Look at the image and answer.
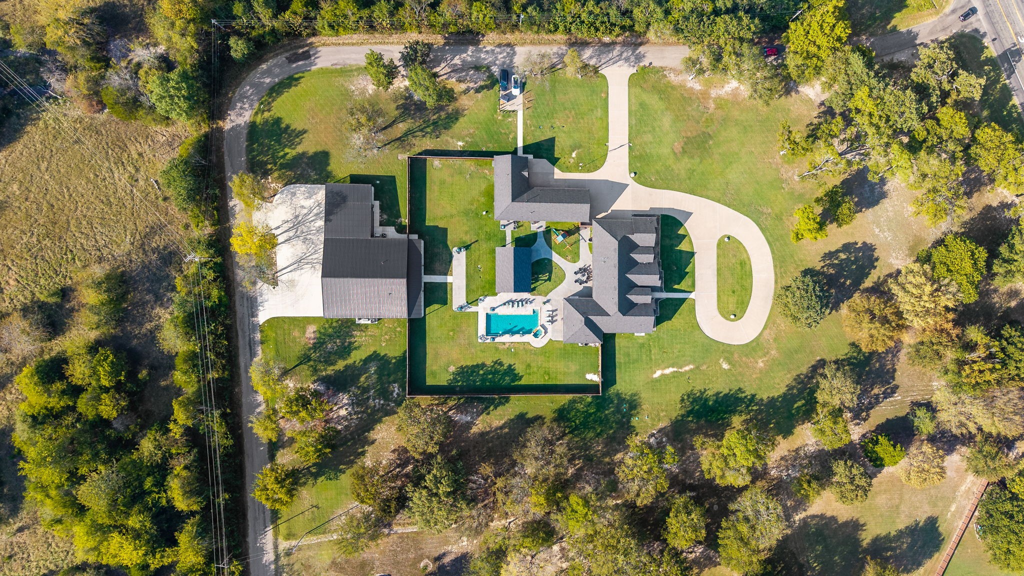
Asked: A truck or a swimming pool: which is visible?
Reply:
swimming pool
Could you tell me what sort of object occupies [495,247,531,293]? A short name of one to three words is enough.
building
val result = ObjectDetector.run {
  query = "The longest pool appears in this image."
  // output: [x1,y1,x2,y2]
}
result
[484,307,540,338]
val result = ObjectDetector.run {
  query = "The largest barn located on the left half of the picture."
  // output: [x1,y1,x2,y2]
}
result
[321,184,424,318]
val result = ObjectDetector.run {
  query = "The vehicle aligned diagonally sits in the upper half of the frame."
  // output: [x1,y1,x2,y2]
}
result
[957,6,978,24]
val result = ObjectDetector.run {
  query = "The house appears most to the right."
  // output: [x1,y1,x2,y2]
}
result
[563,218,660,343]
